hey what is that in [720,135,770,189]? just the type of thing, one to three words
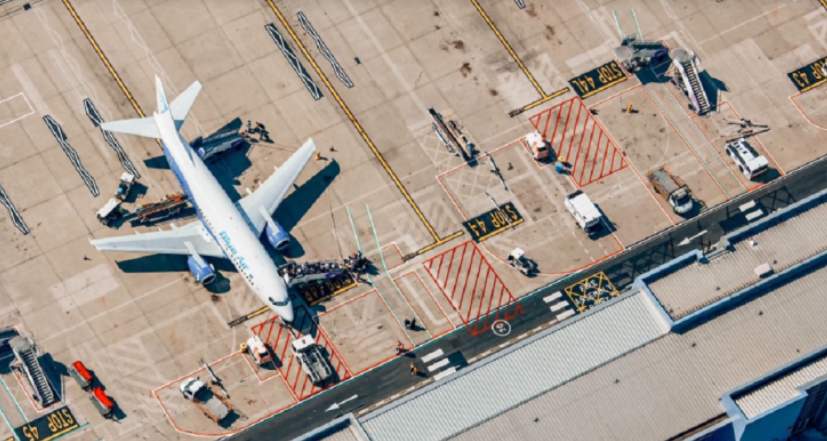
bus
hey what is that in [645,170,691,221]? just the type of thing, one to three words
truck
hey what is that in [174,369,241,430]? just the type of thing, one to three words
truck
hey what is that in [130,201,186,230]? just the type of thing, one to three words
work vehicle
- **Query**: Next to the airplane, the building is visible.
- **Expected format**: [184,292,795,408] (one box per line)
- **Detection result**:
[293,191,827,441]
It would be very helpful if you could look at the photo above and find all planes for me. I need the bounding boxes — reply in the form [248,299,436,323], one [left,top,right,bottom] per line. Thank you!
[91,77,316,324]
